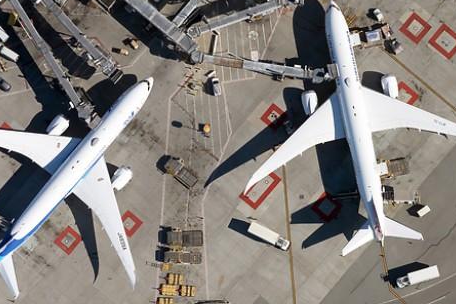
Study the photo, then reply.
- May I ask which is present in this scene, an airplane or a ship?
airplane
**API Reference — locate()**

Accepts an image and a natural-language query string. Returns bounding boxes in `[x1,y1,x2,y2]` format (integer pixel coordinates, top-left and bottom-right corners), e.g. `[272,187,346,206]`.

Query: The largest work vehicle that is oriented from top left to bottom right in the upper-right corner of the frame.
[384,40,404,56]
